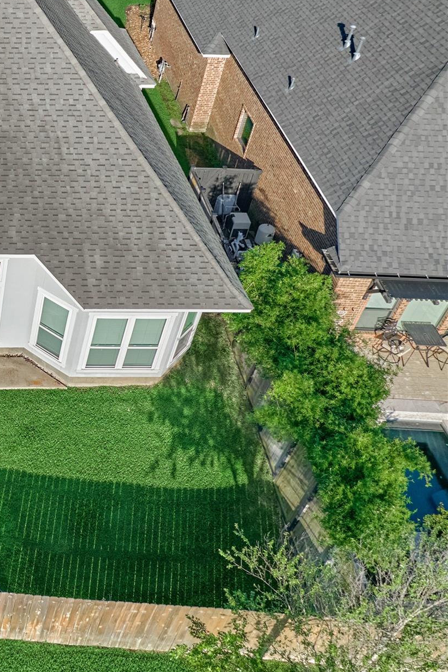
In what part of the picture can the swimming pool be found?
bottom right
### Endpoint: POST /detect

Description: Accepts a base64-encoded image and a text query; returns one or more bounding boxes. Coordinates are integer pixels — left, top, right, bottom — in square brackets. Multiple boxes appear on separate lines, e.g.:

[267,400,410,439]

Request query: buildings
[141,0,448,331]
[0,0,254,385]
